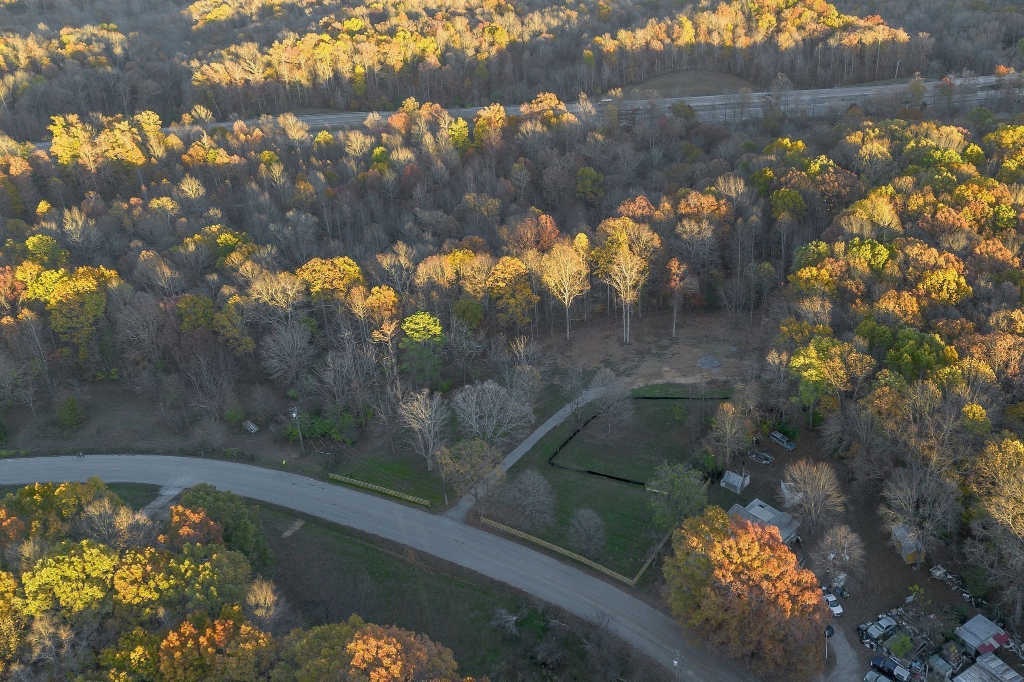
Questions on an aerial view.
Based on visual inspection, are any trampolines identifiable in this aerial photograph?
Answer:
No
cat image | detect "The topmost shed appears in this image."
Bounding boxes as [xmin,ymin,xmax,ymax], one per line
[720,471,752,496]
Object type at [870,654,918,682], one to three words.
truck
